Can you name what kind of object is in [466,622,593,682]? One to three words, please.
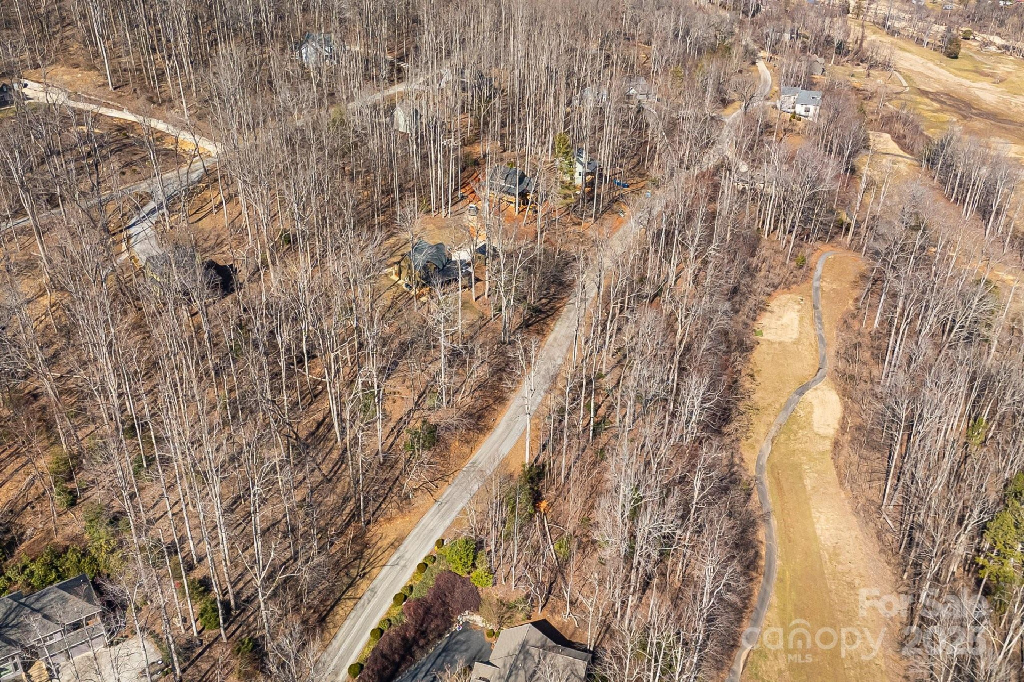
house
